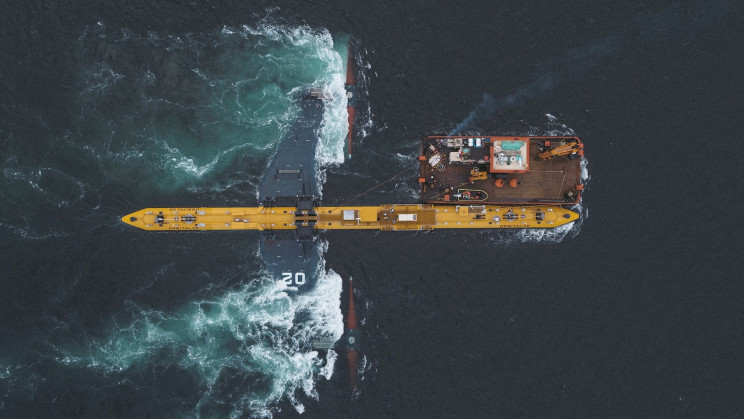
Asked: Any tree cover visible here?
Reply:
No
